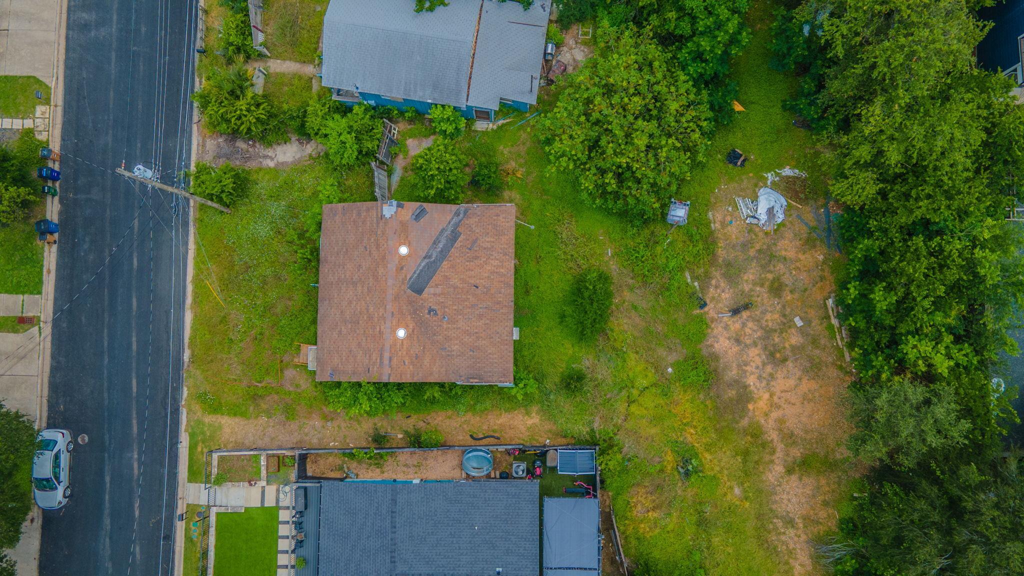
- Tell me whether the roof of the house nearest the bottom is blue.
Yes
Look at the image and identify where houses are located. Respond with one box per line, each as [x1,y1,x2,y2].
[949,0,1024,105]
[311,200,535,386]
[316,477,542,576]
[316,0,550,134]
